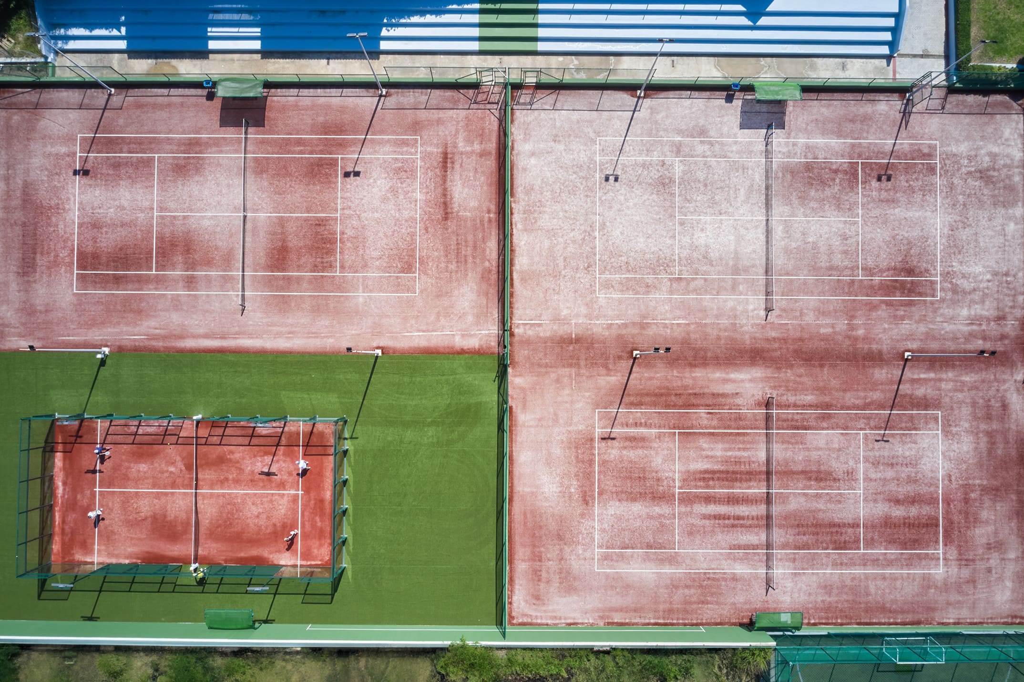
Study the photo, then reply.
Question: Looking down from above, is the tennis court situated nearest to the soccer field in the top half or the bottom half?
bottom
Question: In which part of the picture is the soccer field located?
bottom right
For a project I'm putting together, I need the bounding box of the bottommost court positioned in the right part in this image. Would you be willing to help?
[504,344,1024,627]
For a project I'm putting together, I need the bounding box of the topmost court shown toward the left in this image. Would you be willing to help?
[0,82,506,355]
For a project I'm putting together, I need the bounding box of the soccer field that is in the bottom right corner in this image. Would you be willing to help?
[776,634,1024,682]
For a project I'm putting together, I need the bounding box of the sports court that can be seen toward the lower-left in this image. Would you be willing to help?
[14,410,354,595]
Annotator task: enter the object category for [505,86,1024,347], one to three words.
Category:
tennis court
